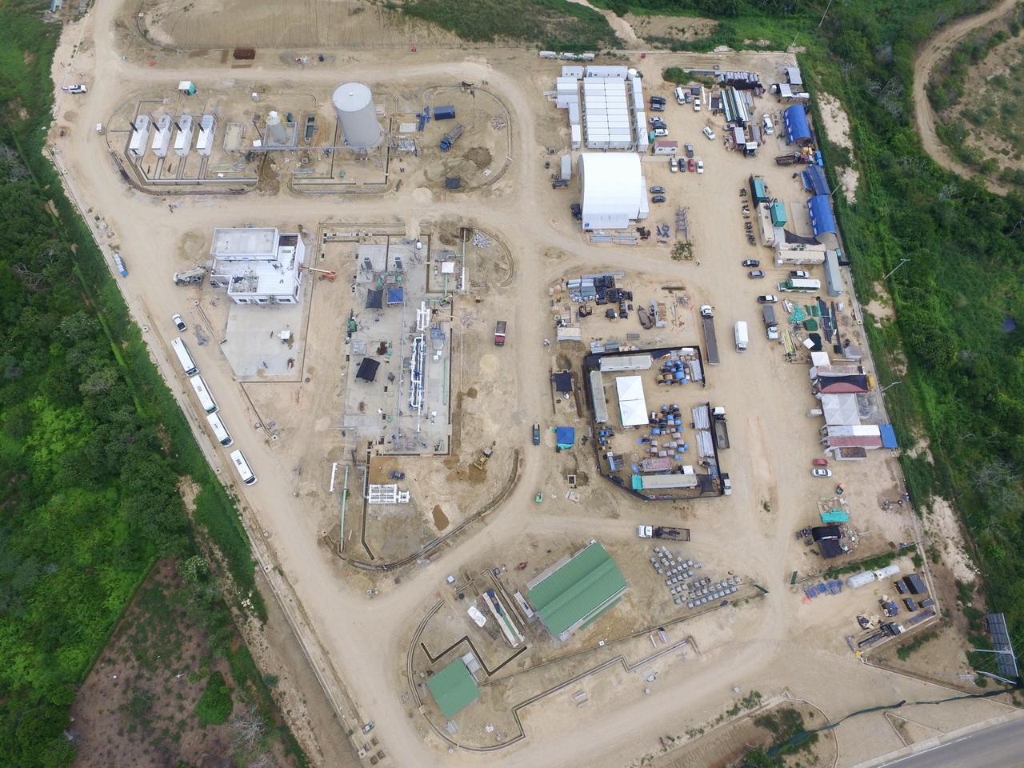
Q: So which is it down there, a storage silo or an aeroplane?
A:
storage silo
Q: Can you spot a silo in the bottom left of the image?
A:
No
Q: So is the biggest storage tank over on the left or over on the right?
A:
left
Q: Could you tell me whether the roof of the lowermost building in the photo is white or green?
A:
green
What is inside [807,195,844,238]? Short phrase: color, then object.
blue tent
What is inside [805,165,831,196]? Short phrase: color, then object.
blue tent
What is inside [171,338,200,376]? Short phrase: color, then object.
white bus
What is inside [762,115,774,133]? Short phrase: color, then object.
white vehicle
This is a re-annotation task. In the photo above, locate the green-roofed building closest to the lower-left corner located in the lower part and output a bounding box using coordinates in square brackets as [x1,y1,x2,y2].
[427,658,482,718]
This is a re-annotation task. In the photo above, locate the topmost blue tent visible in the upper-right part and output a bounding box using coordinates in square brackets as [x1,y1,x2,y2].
[784,104,815,145]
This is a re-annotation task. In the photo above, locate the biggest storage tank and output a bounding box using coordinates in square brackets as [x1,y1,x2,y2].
[331,82,385,150]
